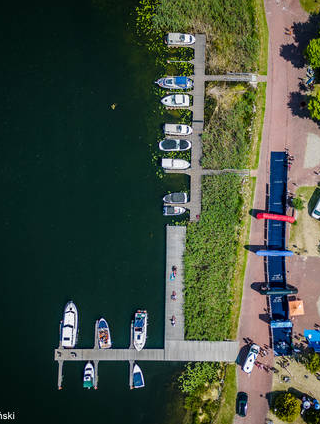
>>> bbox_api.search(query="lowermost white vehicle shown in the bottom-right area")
[241,342,259,375]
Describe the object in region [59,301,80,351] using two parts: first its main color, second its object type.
white boat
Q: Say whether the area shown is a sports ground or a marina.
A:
marina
